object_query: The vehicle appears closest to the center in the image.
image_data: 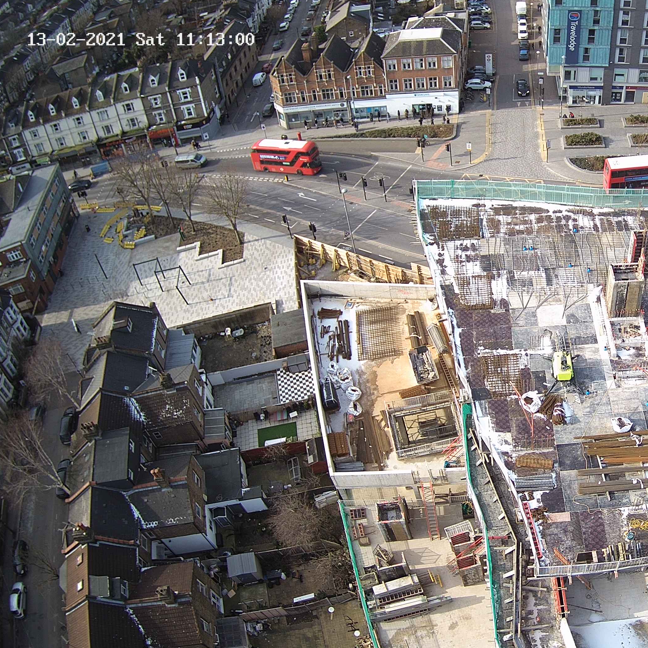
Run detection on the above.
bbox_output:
[251,140,323,174]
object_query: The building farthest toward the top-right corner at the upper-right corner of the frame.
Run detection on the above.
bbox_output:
[529,0,648,107]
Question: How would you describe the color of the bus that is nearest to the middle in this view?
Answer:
red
